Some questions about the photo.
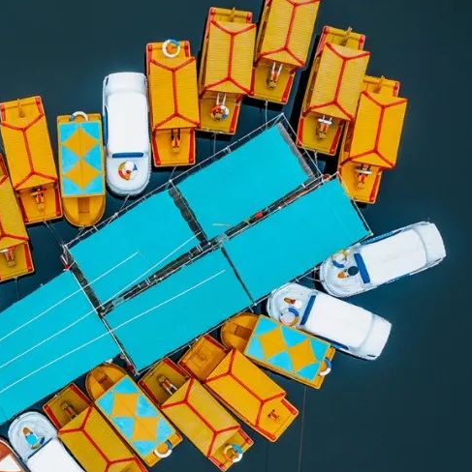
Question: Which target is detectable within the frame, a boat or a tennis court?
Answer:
boat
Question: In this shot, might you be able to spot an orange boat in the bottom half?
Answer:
Yes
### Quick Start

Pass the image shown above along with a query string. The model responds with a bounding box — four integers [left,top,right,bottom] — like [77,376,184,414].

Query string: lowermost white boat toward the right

[266,282,390,360]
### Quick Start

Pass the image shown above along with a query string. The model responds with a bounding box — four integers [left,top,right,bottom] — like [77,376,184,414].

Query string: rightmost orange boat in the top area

[340,76,414,203]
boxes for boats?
[146,40,202,188]
[196,5,258,153]
[44,385,148,472]
[266,282,390,360]
[248,0,319,122]
[0,153,33,300]
[297,26,374,167]
[87,365,183,468]
[179,334,297,440]
[305,220,446,294]
[0,95,62,242]
[340,76,414,203]
[59,114,107,245]
[101,72,152,208]
[207,316,335,390]
[11,409,90,472]
[140,358,253,472]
